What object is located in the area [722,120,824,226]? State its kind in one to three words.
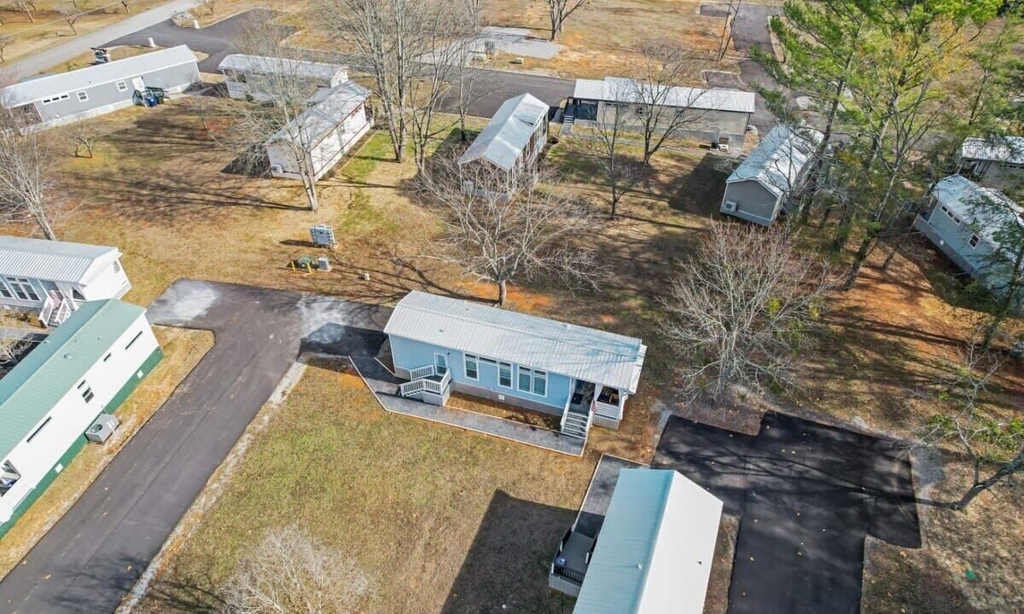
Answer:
house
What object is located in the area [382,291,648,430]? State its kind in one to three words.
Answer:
house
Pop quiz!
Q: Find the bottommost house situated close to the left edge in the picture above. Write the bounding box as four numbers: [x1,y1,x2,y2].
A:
[0,297,161,541]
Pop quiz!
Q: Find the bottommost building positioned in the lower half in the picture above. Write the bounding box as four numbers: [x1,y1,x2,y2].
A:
[572,467,723,614]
